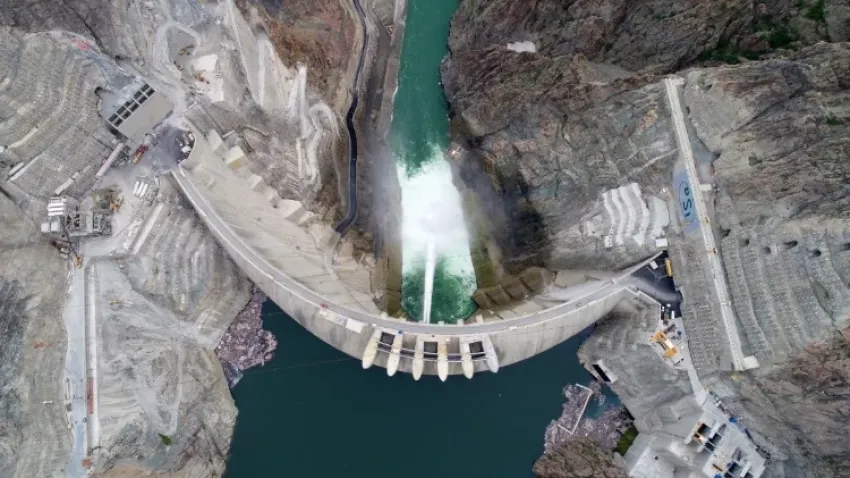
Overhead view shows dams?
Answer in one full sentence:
Yes, there's a dam down there.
